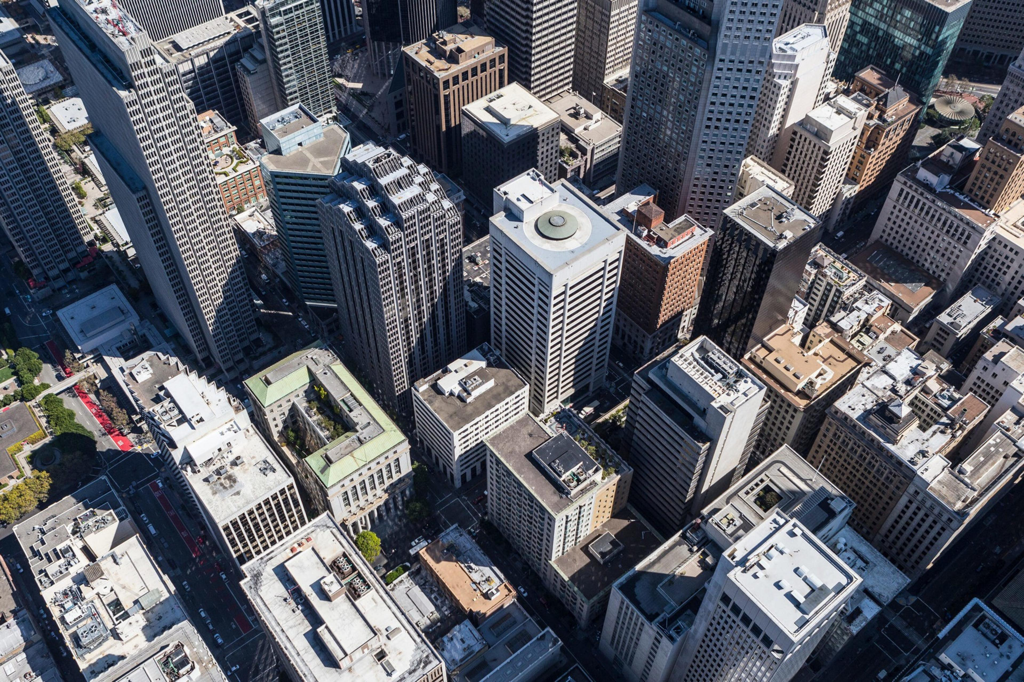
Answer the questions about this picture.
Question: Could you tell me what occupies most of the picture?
buildings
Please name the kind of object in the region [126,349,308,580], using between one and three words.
building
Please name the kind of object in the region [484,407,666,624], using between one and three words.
building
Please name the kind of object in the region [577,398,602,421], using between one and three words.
truck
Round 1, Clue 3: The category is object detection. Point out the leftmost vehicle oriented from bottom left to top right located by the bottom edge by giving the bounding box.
[226,664,240,677]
